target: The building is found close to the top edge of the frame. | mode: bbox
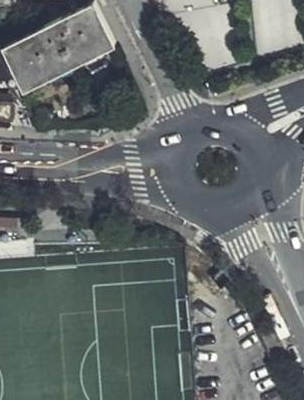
[0,0,118,92]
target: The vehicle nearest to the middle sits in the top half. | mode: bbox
[160,133,181,145]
